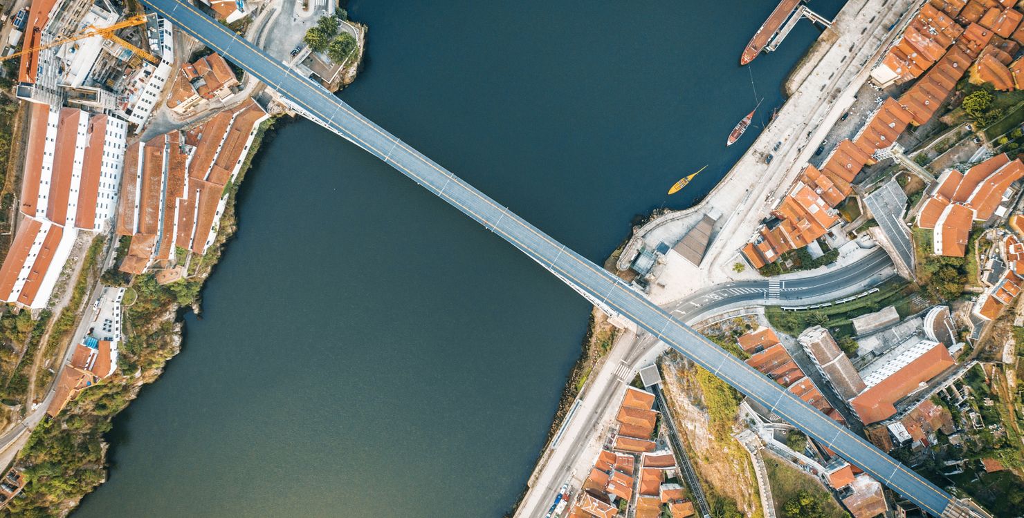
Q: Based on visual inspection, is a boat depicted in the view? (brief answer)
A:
Yes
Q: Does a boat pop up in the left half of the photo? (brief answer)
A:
No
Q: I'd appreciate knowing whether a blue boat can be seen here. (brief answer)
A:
No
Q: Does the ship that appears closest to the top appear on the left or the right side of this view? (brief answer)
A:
right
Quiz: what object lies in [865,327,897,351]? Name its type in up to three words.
shed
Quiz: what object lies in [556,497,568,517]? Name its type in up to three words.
vehicle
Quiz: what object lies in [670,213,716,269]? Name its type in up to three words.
building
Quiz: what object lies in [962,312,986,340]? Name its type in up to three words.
house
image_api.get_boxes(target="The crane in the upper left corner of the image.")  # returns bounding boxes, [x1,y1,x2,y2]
[0,16,167,67]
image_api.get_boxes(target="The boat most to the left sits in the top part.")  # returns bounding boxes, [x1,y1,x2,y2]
[668,166,708,194]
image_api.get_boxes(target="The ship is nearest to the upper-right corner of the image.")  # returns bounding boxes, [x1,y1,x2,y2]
[742,0,801,65]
